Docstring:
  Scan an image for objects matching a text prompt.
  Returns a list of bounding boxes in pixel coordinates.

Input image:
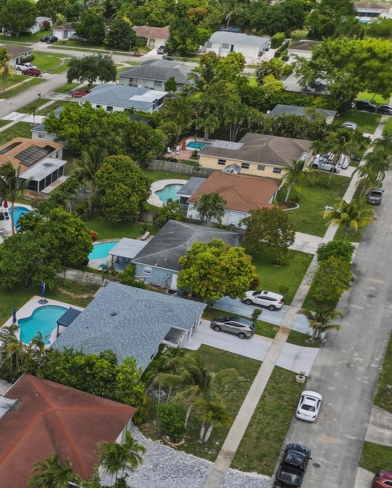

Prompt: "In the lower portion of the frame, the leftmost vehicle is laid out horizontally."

[208,316,258,342]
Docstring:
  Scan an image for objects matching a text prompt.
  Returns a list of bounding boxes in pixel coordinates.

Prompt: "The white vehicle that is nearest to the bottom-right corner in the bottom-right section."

[293,389,324,425]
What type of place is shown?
residential area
